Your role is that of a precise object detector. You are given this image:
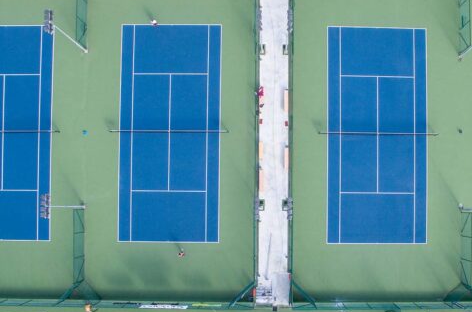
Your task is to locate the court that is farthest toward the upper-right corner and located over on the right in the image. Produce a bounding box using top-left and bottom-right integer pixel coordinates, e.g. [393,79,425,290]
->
[326,26,427,244]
